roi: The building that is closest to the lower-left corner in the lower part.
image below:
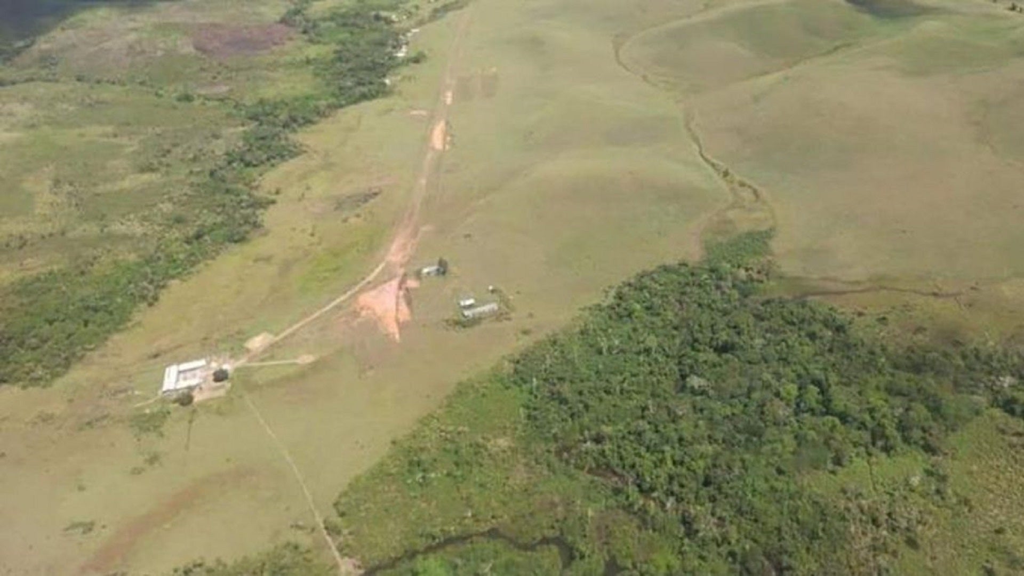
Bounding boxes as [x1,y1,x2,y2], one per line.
[163,361,213,396]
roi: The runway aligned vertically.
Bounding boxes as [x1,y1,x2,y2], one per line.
[394,0,473,277]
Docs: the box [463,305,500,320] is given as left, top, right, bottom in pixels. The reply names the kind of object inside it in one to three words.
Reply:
shed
